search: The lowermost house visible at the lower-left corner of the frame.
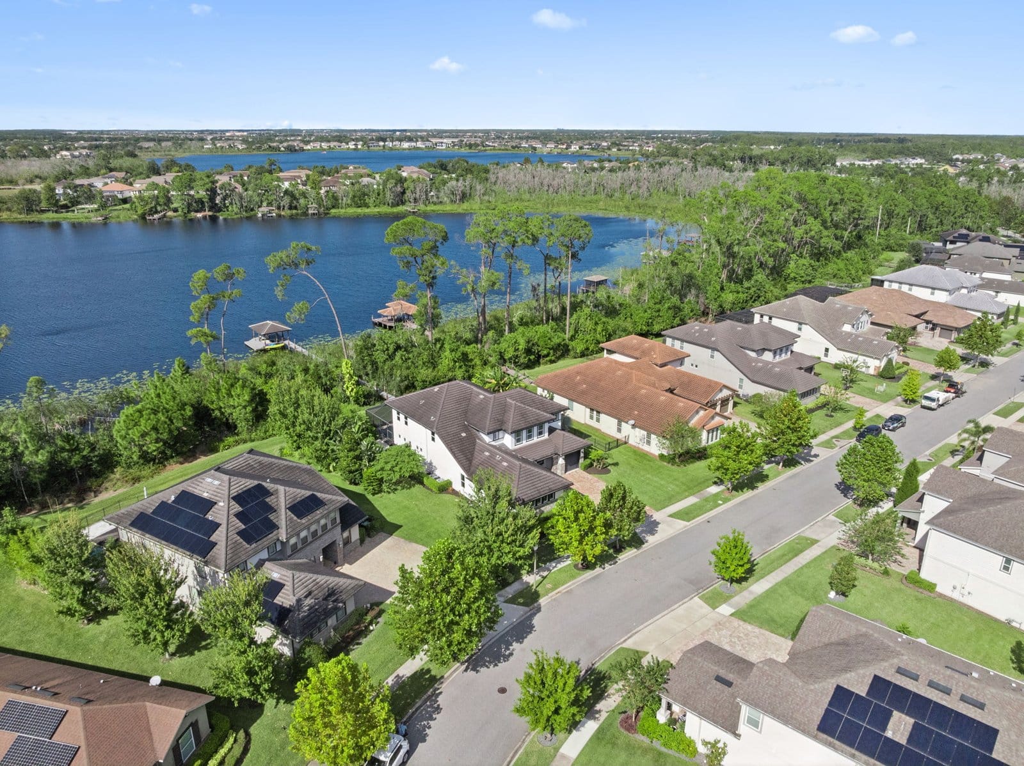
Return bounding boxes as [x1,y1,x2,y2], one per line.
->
[0,652,215,766]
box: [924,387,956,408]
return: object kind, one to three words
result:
truck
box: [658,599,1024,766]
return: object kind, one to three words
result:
house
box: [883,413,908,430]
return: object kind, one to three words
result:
car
